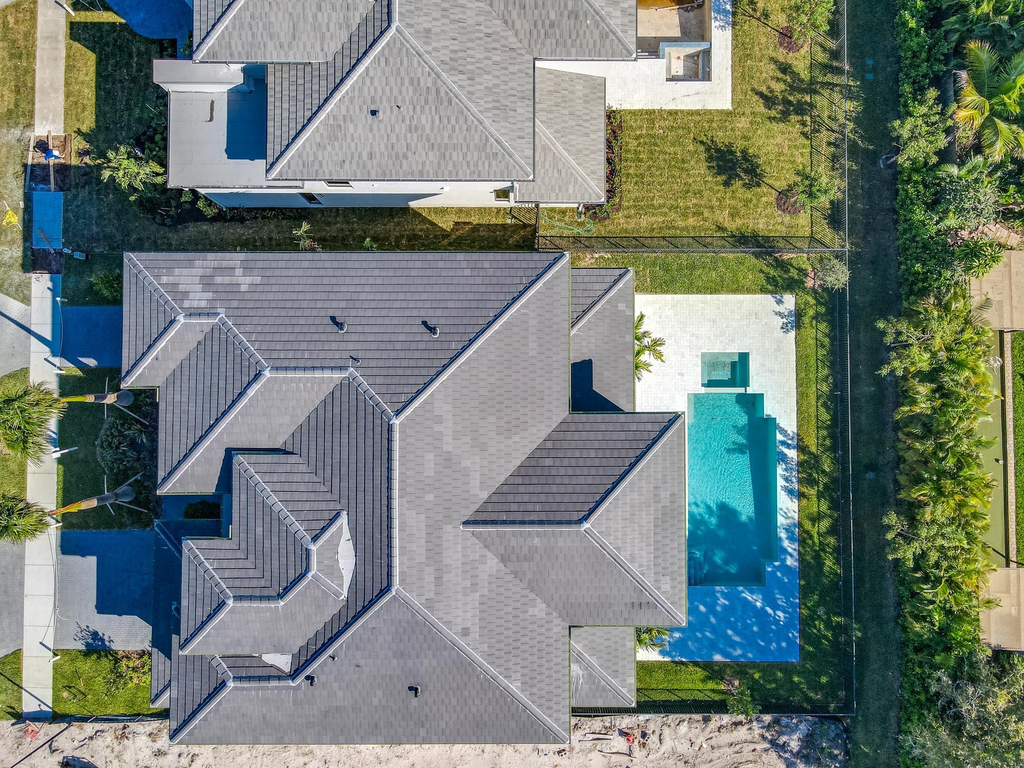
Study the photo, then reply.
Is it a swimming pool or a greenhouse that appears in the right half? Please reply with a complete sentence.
What appears in the right half is a swimming pool.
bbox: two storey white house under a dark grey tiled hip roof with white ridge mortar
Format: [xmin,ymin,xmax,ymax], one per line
[118,248,689,747]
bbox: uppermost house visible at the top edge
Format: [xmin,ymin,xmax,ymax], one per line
[159,0,639,219]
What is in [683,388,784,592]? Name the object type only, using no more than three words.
swimming pool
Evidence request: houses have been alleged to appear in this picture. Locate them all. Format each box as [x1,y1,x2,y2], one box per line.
[159,0,639,219]
[118,248,689,747]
